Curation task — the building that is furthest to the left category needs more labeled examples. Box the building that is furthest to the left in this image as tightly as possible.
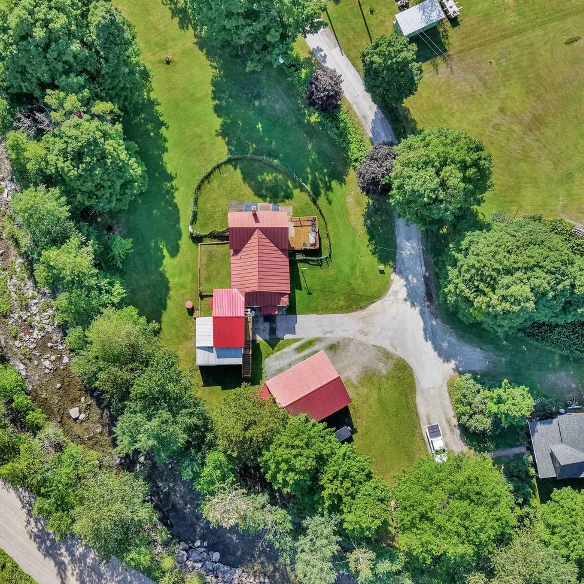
[197,289,245,365]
